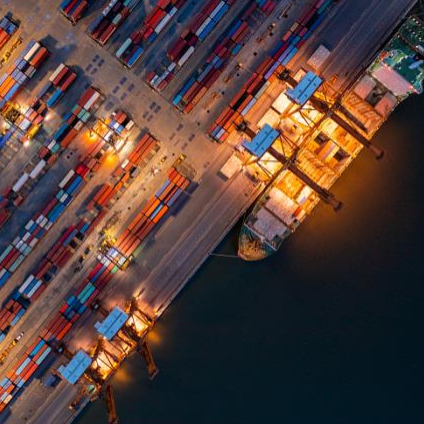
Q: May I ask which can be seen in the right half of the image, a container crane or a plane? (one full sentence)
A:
There is a container crane in the right half of the image.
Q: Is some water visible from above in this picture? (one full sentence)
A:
Yes, the picture does contain water.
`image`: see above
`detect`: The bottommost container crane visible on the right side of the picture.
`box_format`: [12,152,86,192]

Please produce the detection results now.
[231,119,351,221]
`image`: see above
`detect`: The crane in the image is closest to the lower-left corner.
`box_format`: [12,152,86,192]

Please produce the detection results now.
[52,332,126,424]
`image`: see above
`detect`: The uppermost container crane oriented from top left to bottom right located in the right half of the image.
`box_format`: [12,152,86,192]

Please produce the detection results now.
[273,68,393,169]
